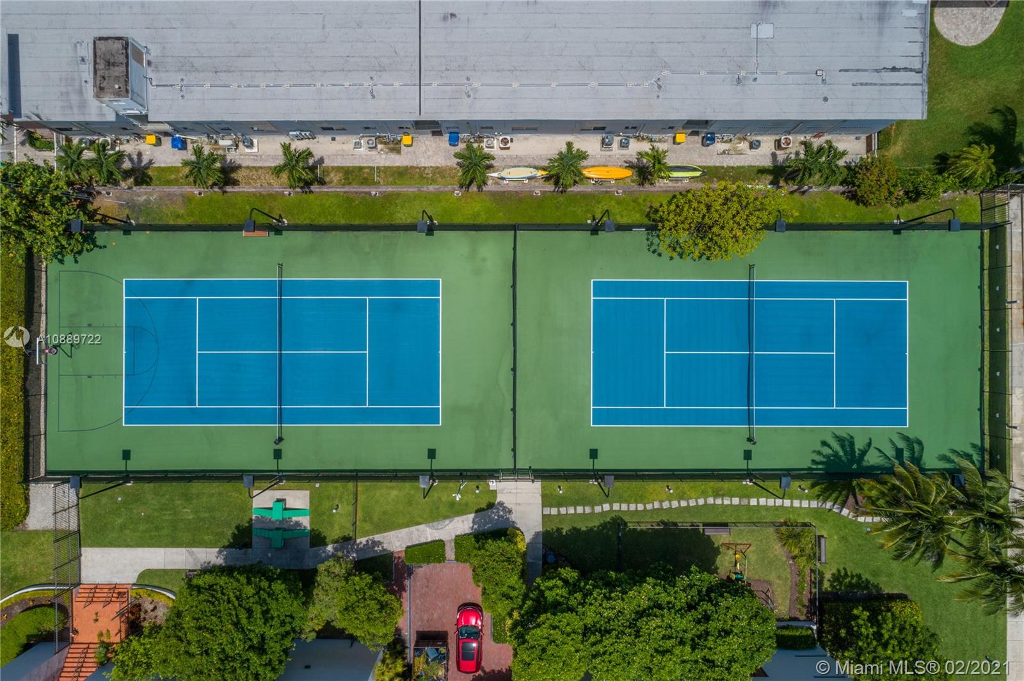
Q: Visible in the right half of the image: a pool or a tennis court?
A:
tennis court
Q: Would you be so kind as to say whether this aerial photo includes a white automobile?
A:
No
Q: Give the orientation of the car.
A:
from top to bottom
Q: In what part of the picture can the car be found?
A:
bottom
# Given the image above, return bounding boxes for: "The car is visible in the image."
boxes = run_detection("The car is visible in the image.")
[453,603,485,672]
